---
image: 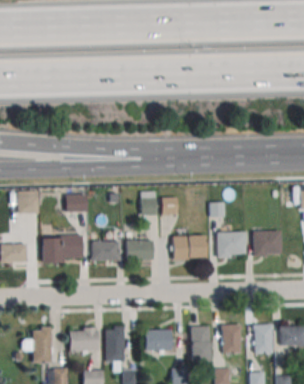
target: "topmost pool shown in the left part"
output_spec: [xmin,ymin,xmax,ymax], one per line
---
[95,214,109,228]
